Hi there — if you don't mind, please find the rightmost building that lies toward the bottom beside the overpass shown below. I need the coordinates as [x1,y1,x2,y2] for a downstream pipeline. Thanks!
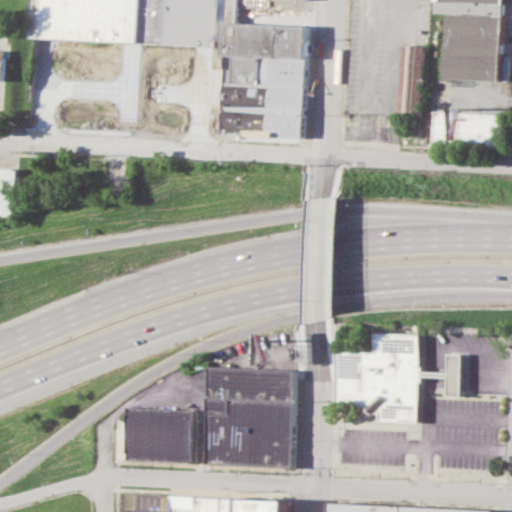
[336,326,422,422]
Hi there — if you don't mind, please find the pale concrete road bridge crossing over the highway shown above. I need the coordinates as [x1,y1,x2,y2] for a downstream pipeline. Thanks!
[299,196,348,326]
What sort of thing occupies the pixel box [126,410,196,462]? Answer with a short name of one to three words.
building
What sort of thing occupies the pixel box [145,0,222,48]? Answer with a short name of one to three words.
building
